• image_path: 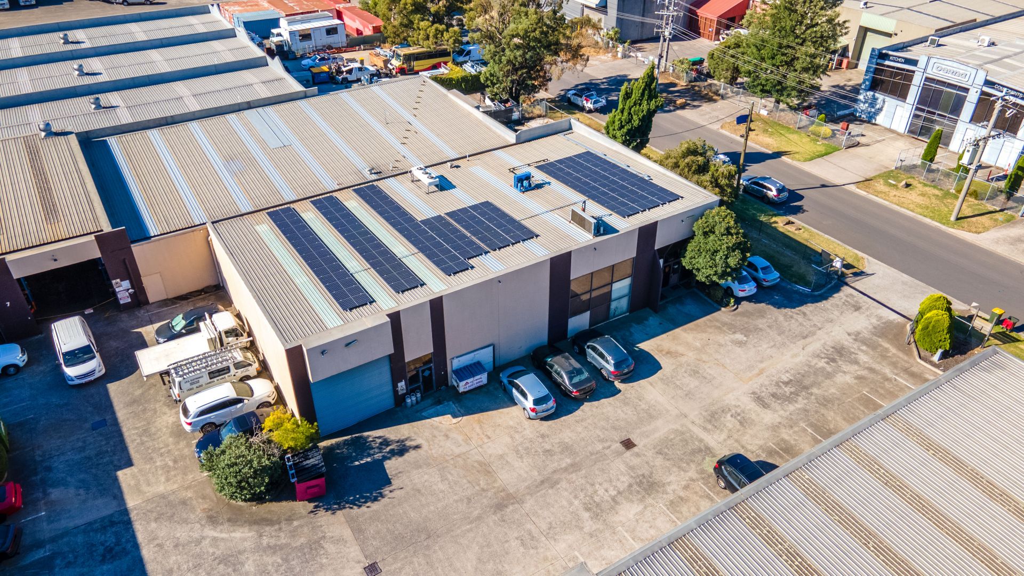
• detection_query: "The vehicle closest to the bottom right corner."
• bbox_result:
[710,452,770,500]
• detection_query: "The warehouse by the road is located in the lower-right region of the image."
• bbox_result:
[614,341,1024,576]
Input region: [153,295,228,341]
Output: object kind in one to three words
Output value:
car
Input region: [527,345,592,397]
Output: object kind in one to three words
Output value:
car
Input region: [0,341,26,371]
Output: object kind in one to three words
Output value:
truck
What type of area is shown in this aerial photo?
industrial area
